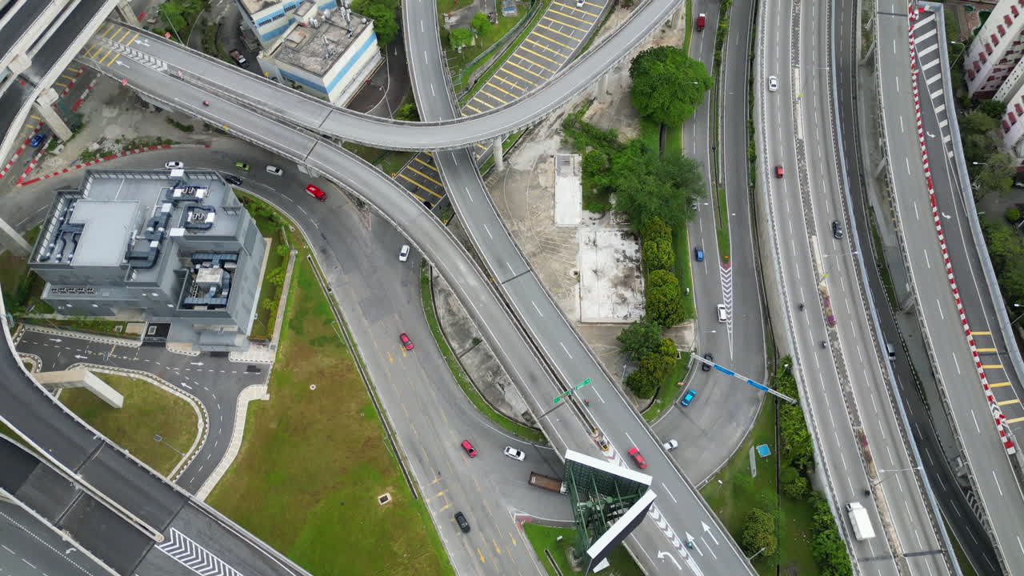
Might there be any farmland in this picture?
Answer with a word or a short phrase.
No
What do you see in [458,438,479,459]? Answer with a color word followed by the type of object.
red car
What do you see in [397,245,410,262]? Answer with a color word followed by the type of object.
white vehicle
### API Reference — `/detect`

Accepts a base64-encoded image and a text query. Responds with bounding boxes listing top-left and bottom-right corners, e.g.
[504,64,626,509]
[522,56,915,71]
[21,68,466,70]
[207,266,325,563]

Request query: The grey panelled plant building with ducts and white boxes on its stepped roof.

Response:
[25,167,270,356]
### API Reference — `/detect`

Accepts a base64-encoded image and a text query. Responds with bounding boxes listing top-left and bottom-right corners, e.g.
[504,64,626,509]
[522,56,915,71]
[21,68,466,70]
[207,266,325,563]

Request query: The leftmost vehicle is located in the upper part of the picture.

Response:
[29,133,46,147]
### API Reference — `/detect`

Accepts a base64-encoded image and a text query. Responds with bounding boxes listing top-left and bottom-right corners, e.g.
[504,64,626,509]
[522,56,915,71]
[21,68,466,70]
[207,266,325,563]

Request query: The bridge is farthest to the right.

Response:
[861,0,1024,576]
